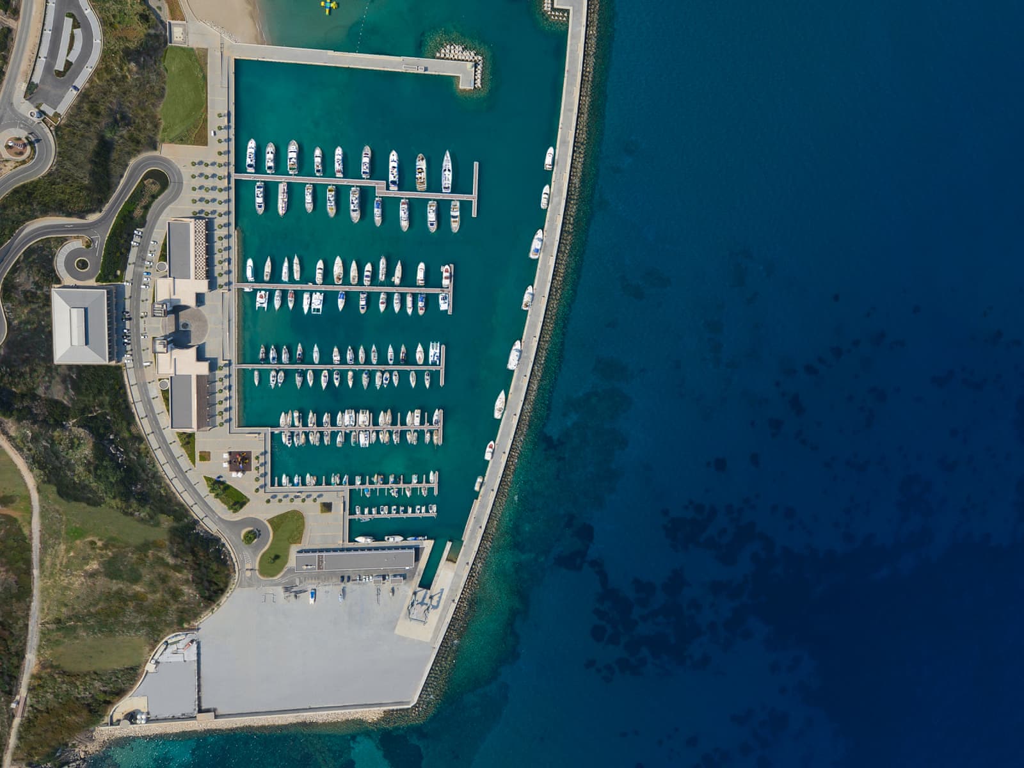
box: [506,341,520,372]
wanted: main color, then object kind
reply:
white boat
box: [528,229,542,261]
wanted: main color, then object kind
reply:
white boat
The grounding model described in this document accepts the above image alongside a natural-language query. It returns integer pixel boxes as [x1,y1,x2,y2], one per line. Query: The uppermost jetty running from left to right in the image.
[228,41,475,89]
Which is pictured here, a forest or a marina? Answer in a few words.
marina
